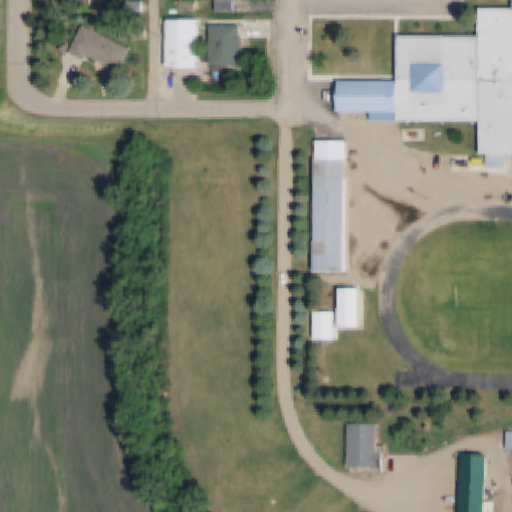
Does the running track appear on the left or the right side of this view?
right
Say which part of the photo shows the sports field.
right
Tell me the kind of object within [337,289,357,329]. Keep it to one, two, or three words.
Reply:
shed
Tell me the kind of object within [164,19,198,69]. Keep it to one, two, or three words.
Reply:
building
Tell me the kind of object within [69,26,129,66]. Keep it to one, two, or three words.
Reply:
house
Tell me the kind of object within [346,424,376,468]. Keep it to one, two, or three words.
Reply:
shed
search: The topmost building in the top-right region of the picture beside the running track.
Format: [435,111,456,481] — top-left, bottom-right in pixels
[334,8,512,168]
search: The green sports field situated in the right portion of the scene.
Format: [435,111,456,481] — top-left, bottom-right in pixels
[396,222,512,372]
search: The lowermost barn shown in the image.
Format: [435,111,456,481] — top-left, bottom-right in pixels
[457,452,485,512]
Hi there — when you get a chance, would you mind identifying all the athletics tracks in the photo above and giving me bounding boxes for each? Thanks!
[380,206,512,387]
